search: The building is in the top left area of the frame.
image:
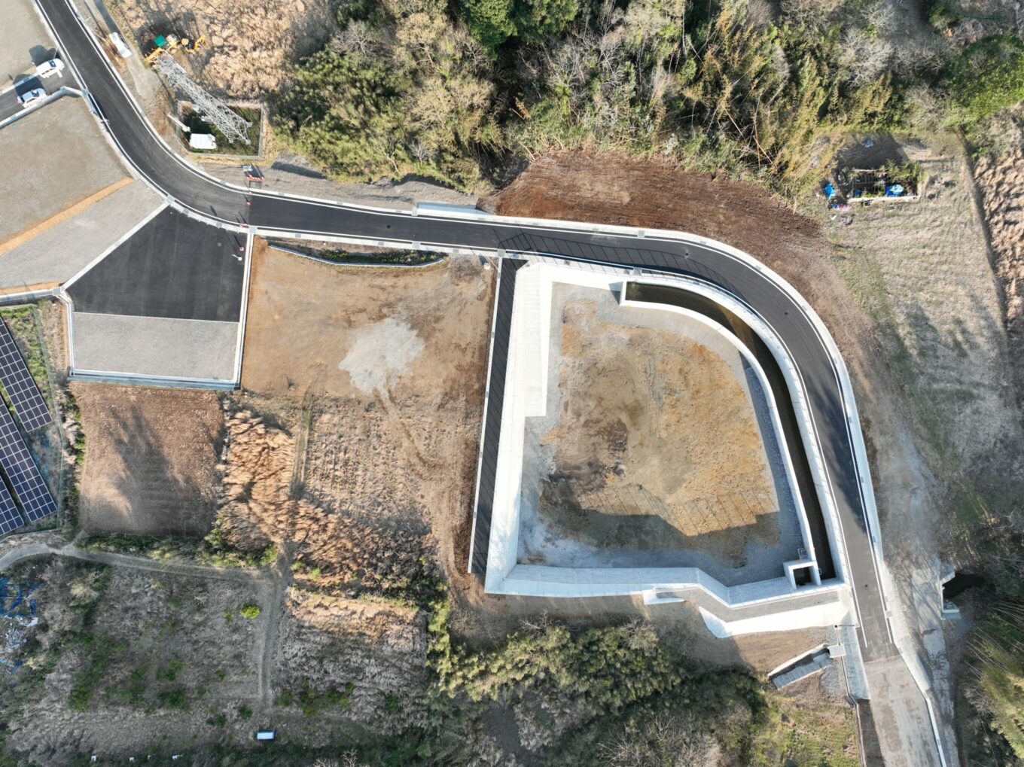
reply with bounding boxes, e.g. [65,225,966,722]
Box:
[185,132,218,152]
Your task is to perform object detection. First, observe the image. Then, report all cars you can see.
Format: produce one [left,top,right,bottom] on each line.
[20,88,50,107]
[111,34,134,63]
[35,62,70,81]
